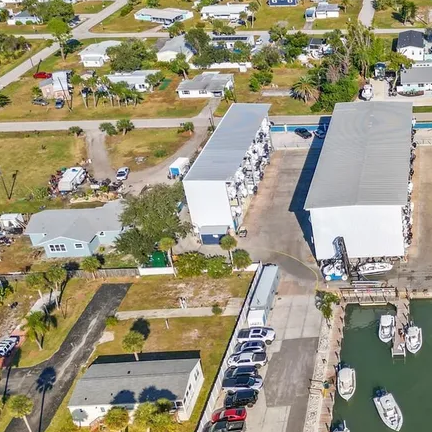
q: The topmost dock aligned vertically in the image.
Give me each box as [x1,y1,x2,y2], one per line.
[392,299,408,360]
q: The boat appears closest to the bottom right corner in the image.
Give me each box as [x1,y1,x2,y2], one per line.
[369,381,401,432]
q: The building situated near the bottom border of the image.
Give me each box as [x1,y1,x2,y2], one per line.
[64,358,201,432]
